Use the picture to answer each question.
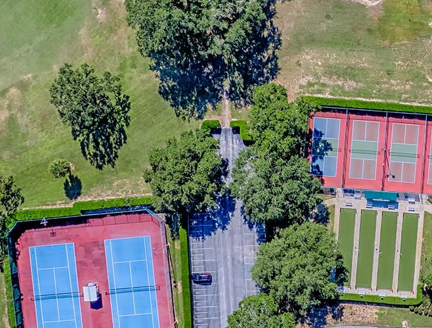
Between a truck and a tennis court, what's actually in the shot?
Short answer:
tennis court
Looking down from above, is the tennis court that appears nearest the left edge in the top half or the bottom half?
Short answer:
bottom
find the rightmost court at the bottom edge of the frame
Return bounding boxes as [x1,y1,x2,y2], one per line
[103,234,160,328]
